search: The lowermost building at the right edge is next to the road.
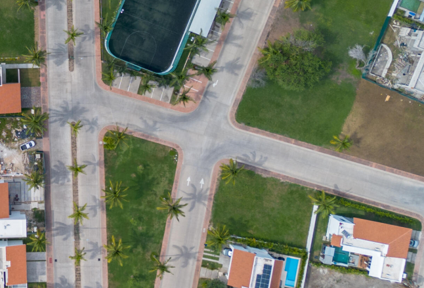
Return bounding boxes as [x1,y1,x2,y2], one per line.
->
[315,212,413,282]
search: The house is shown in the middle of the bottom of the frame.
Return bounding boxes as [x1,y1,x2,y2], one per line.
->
[221,242,284,288]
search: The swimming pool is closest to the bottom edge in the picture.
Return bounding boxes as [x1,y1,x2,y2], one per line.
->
[284,256,300,288]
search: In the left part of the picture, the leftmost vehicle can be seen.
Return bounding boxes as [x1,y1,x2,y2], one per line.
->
[18,138,38,152]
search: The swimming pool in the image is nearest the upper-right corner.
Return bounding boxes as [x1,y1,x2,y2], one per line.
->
[399,0,423,14]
